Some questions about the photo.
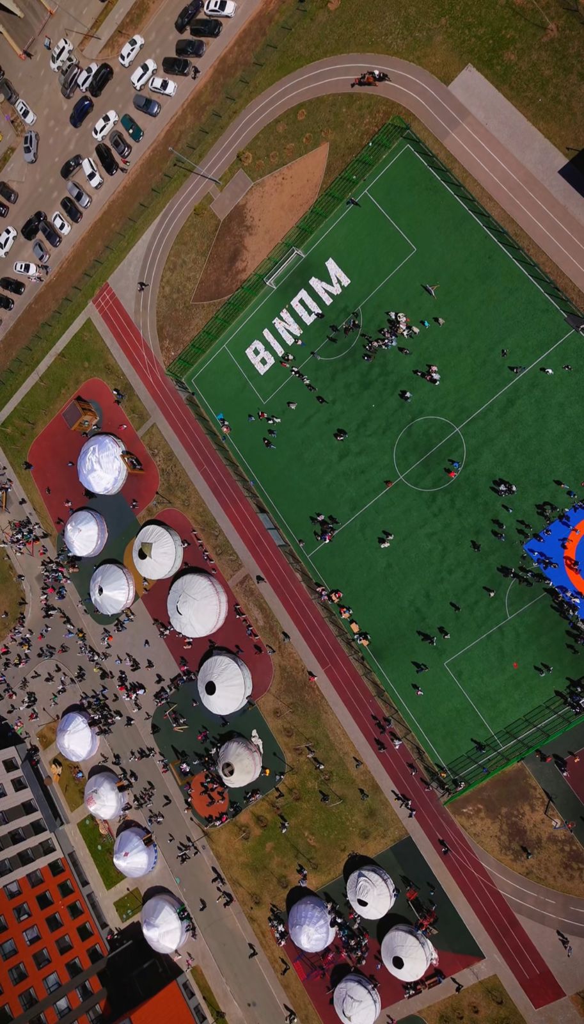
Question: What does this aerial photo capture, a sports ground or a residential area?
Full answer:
It's a sports ground.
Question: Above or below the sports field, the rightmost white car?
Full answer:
The rightmost white car is found above the sports field in the photo.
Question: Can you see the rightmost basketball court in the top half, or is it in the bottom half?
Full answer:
The rightmost basketball court is in the bottom half of the image.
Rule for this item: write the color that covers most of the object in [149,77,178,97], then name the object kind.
white car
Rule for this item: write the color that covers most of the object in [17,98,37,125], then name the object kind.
white car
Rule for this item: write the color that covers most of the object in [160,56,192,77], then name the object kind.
black car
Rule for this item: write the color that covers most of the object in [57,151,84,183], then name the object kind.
black car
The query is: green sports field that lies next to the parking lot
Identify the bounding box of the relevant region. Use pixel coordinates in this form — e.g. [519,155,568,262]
[182,131,584,795]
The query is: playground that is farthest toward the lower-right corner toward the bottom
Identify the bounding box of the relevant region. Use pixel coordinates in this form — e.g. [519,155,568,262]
[269,836,486,1024]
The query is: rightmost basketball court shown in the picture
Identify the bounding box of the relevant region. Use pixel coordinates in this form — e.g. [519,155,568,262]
[523,724,584,848]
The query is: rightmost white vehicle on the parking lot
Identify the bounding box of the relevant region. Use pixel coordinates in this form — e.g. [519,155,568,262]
[204,0,236,20]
